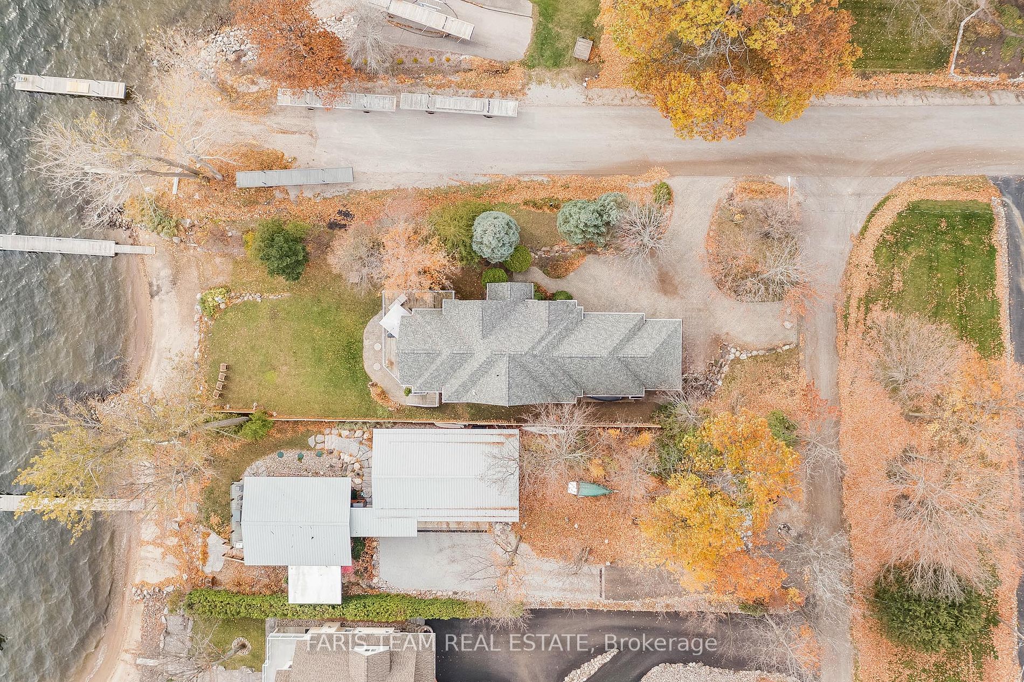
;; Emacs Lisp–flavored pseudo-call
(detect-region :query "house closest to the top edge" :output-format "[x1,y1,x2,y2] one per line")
[396,282,683,405]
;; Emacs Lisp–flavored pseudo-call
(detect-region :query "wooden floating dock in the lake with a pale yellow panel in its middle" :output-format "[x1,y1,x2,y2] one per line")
[14,74,128,99]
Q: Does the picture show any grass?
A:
Yes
